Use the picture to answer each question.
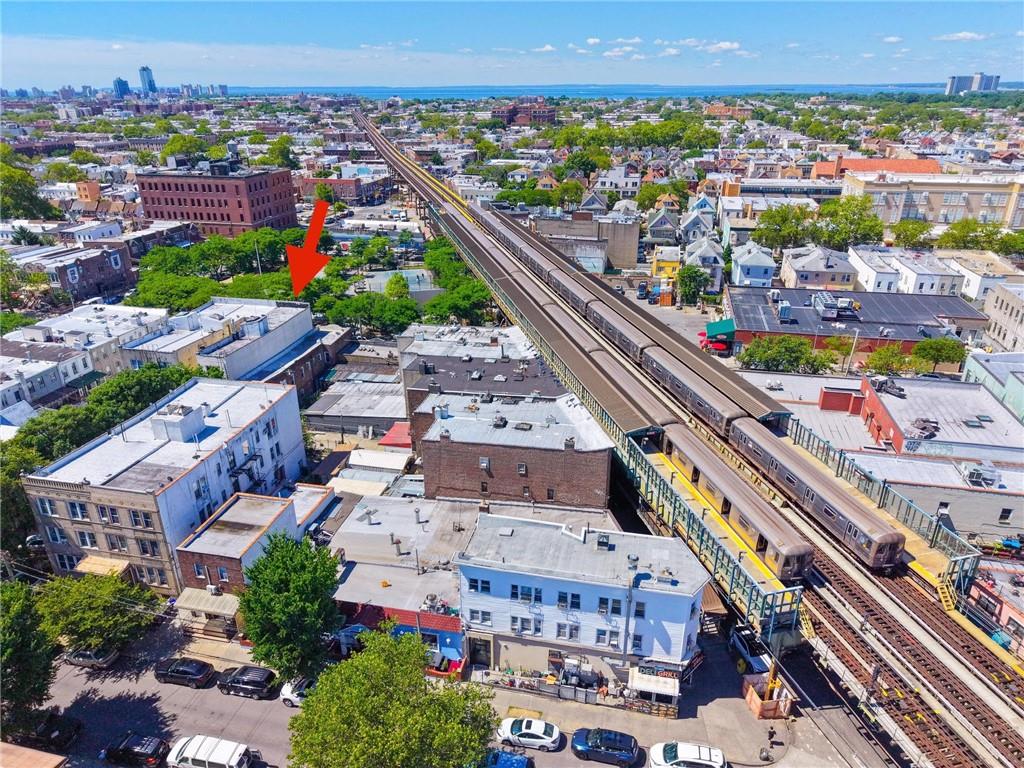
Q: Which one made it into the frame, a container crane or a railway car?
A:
railway car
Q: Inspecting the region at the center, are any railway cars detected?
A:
Yes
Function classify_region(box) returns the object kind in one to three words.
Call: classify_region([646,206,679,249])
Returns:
house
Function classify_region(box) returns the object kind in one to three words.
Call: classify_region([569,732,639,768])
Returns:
car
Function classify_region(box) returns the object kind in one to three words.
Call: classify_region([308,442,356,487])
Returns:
shed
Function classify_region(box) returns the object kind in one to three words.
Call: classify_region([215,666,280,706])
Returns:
car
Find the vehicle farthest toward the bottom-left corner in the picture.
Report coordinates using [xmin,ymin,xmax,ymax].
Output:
[18,712,89,754]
